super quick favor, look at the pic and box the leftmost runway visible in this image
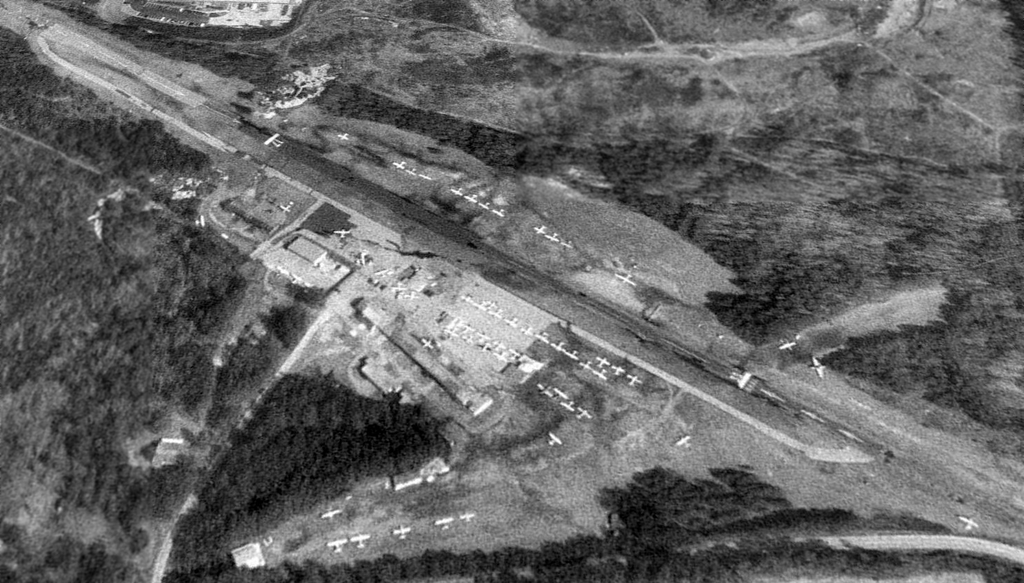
[63,31,208,107]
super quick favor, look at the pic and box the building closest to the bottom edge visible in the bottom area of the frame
[234,544,265,572]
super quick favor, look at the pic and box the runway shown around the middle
[192,97,883,461]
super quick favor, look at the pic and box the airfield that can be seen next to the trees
[33,31,883,462]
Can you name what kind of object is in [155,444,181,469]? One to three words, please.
house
